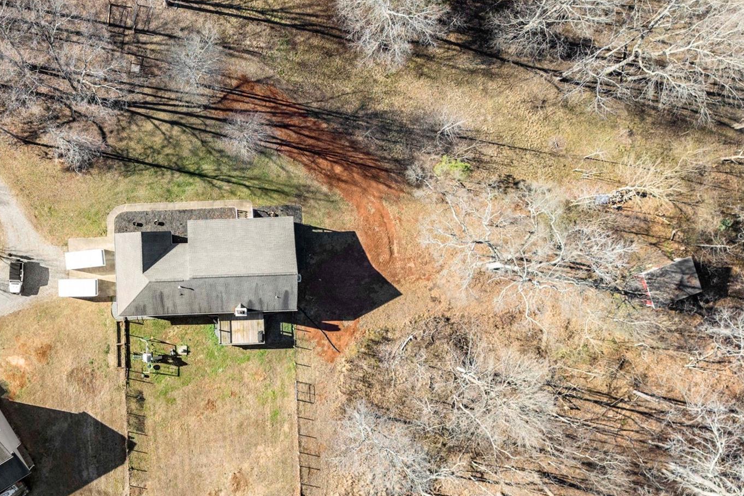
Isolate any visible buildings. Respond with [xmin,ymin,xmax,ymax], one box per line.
[115,208,302,344]
[633,257,701,308]
[0,410,35,493]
